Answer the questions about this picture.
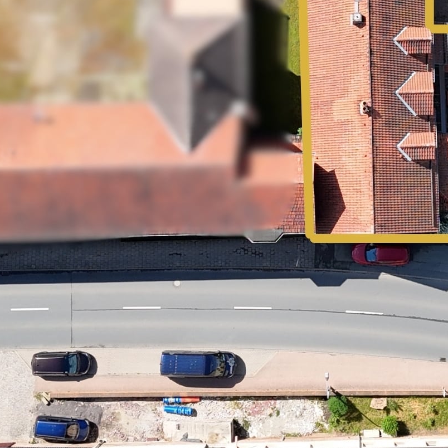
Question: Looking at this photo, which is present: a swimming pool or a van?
van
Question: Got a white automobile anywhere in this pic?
No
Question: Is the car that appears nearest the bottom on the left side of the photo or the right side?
left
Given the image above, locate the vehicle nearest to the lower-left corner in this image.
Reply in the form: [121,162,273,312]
[30,412,95,448]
